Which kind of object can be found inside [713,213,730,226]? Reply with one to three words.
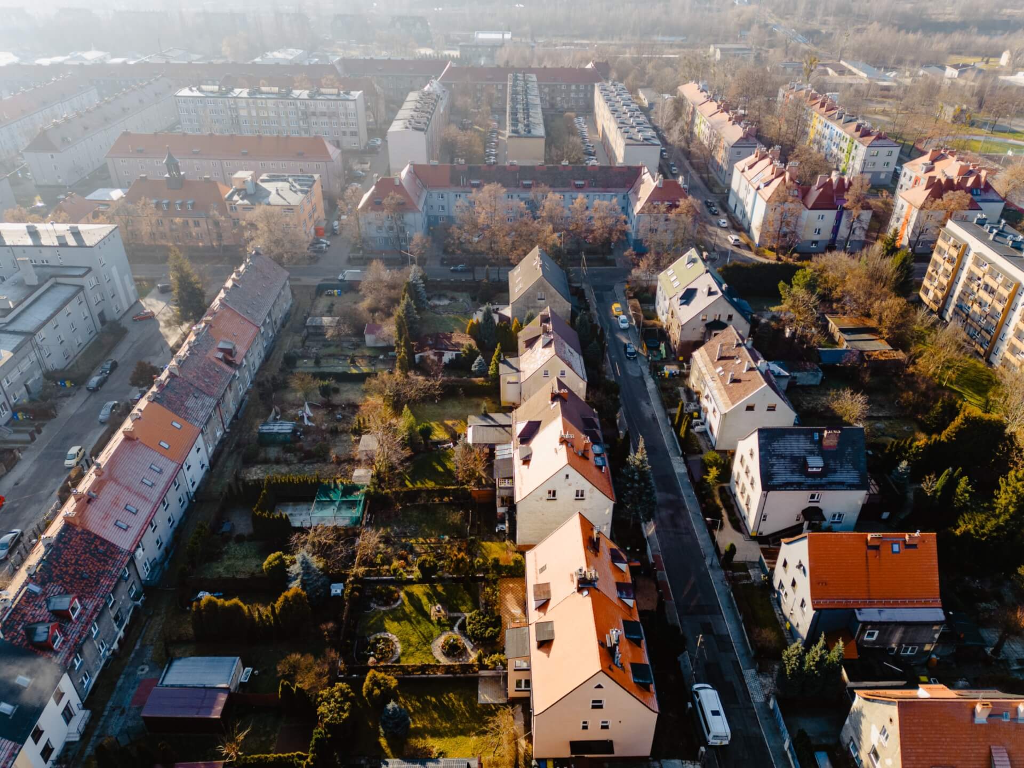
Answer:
vehicle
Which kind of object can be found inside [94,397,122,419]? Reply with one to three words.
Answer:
car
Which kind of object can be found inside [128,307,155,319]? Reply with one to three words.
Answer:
vehicle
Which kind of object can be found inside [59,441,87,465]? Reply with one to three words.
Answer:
car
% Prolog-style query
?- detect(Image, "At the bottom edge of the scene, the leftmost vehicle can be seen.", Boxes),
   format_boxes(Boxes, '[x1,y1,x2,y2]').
[694,686,733,745]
